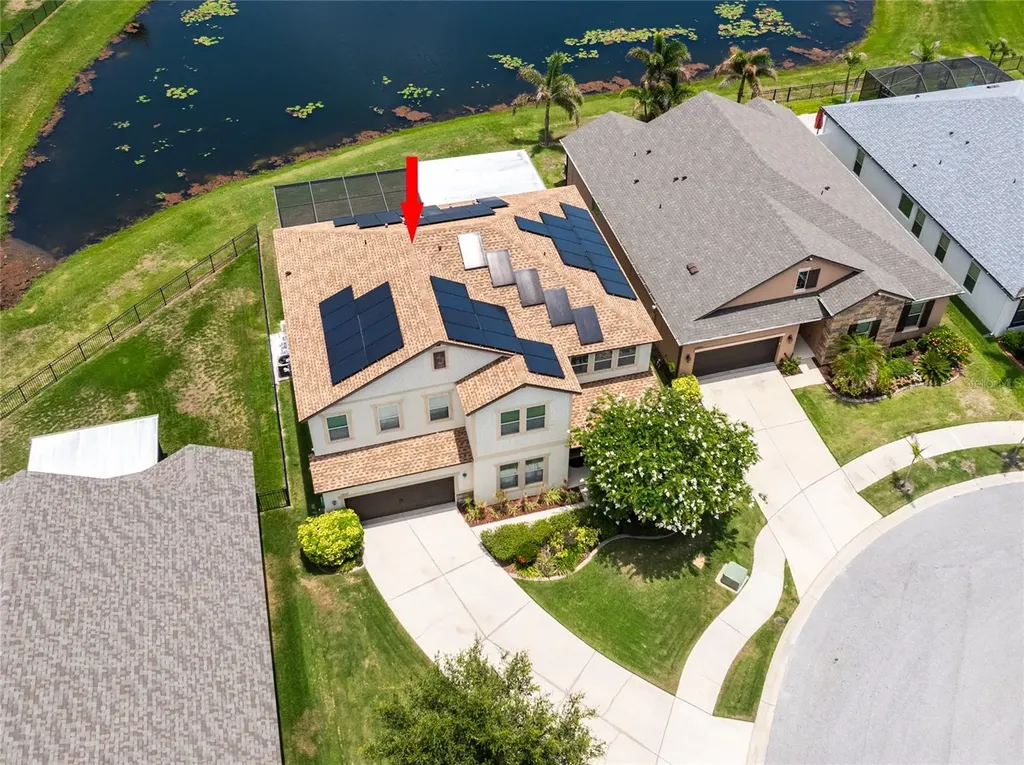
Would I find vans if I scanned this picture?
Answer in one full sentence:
No, I can see no van in this picture.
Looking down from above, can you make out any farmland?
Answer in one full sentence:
No, no farmland is visible.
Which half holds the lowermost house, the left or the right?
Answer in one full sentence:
You can find the lowermost house on the left side of the picture.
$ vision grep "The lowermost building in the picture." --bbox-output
[0,412,280,765]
